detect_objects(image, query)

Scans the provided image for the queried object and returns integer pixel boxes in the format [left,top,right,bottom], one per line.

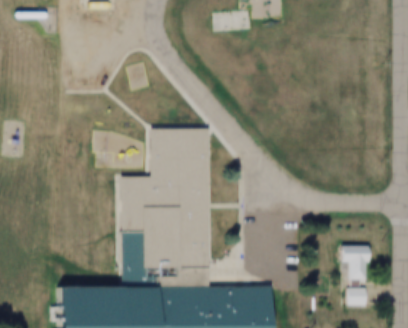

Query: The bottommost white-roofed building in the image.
[344,287,368,308]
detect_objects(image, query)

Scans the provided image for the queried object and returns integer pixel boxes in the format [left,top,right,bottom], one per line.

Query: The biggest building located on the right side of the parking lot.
[338,245,372,286]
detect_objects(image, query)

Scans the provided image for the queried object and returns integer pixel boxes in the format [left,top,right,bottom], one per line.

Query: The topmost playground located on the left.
[126,62,149,91]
